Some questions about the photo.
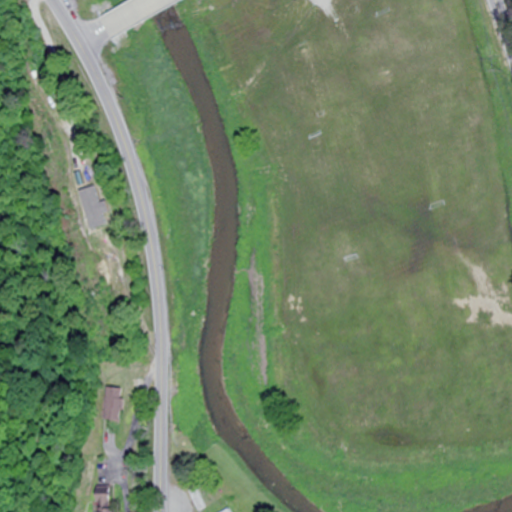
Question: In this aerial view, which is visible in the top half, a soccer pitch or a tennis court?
soccer pitch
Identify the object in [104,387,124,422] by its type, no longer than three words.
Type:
house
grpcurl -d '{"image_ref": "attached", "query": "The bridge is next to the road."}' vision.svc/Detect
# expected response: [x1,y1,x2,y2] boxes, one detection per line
[96,0,176,38]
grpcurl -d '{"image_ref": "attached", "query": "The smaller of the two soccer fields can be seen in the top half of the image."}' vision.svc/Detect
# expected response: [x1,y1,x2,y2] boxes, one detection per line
[282,125,384,266]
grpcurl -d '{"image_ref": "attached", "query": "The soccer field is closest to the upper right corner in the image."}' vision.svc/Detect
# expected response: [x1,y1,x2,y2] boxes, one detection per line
[330,0,487,218]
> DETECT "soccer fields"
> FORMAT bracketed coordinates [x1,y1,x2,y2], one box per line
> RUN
[330,0,487,218]
[282,125,384,266]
